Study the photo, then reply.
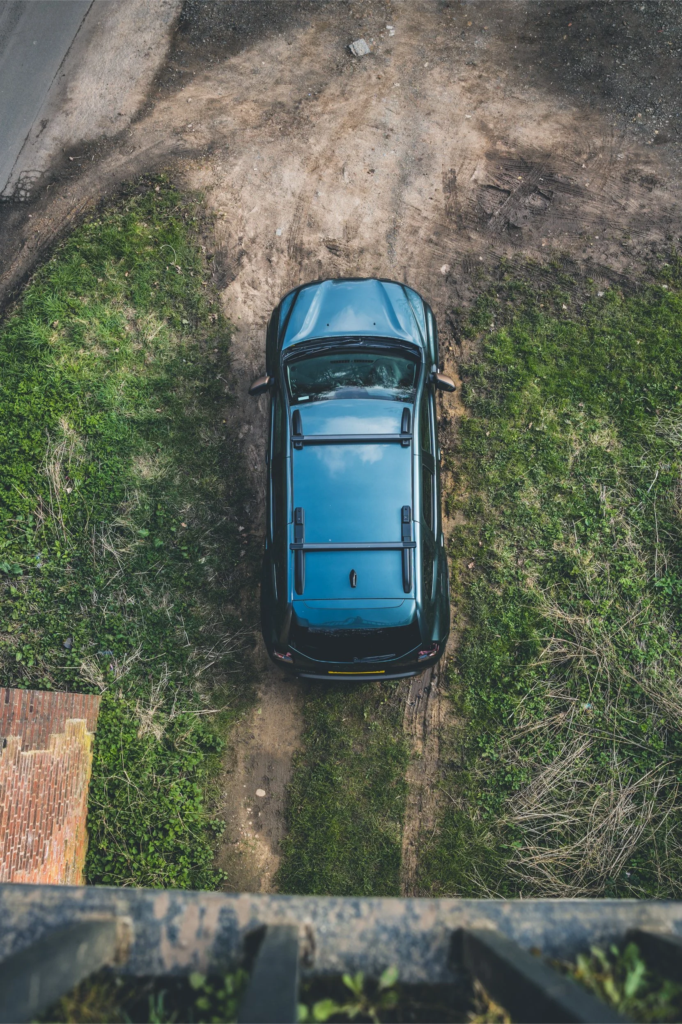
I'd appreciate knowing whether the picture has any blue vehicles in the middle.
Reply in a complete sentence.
Yes, you'll find a blue vehicle in the middle.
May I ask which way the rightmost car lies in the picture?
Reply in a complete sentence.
The rightmost car is oriented from top to bottom.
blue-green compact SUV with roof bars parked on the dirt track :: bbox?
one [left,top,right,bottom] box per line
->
[249,275,456,682]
